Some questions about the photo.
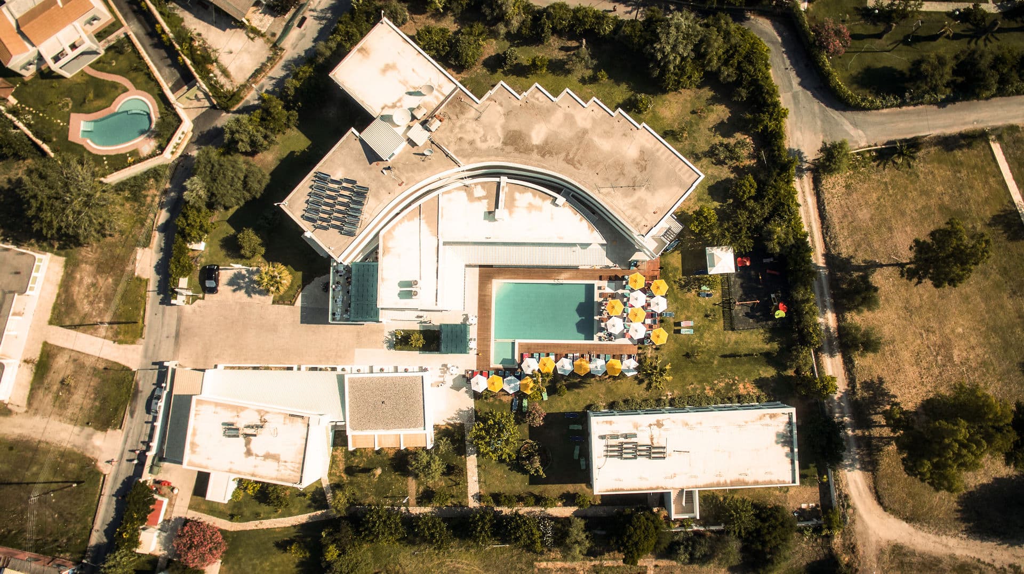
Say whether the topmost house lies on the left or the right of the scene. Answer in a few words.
left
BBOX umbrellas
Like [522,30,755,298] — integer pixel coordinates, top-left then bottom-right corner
[605,299,623,315]
[628,272,644,289]
[628,321,646,340]
[471,374,488,393]
[589,358,606,375]
[519,376,535,394]
[538,357,556,372]
[621,358,638,376]
[650,328,668,343]
[504,375,520,394]
[605,358,622,374]
[650,295,667,313]
[573,358,589,375]
[556,357,572,375]
[520,357,538,375]
[628,306,646,323]
[487,374,504,392]
[606,316,623,334]
[628,290,645,308]
[650,279,668,295]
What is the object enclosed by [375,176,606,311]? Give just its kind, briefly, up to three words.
building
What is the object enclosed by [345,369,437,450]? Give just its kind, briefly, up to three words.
building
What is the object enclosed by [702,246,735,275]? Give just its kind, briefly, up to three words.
gazebo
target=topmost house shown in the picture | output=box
[206,0,263,31]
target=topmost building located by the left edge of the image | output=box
[0,0,127,86]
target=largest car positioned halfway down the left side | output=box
[204,264,221,294]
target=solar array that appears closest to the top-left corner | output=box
[304,172,369,237]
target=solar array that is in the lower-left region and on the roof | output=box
[223,420,264,436]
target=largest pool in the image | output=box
[490,278,638,368]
